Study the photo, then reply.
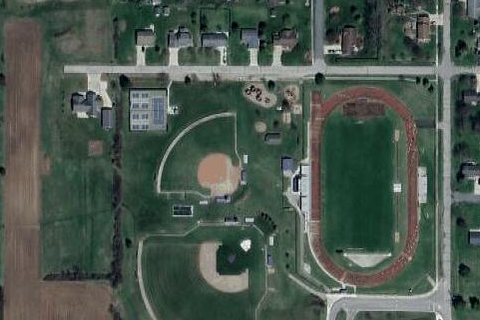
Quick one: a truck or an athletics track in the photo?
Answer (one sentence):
The image shows an athletics track.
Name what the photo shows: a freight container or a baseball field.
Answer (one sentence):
Of the two, only a baseball field appears.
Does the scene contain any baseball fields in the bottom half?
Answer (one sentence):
Yes, in the bottom half there is a baseball field.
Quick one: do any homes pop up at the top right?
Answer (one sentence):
Yes, a home shows up at the top right.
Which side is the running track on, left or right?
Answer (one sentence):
The running track is on the right side of the image.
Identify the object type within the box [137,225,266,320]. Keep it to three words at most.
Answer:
baseball field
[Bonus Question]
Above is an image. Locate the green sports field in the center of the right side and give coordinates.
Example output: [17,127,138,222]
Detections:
[323,119,407,251]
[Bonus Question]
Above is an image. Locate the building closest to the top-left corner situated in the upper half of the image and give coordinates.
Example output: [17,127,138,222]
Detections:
[72,91,100,113]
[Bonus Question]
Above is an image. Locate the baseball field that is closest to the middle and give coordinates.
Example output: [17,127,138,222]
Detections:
[156,112,241,196]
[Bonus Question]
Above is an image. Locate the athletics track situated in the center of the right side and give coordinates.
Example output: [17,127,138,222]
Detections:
[310,86,418,287]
